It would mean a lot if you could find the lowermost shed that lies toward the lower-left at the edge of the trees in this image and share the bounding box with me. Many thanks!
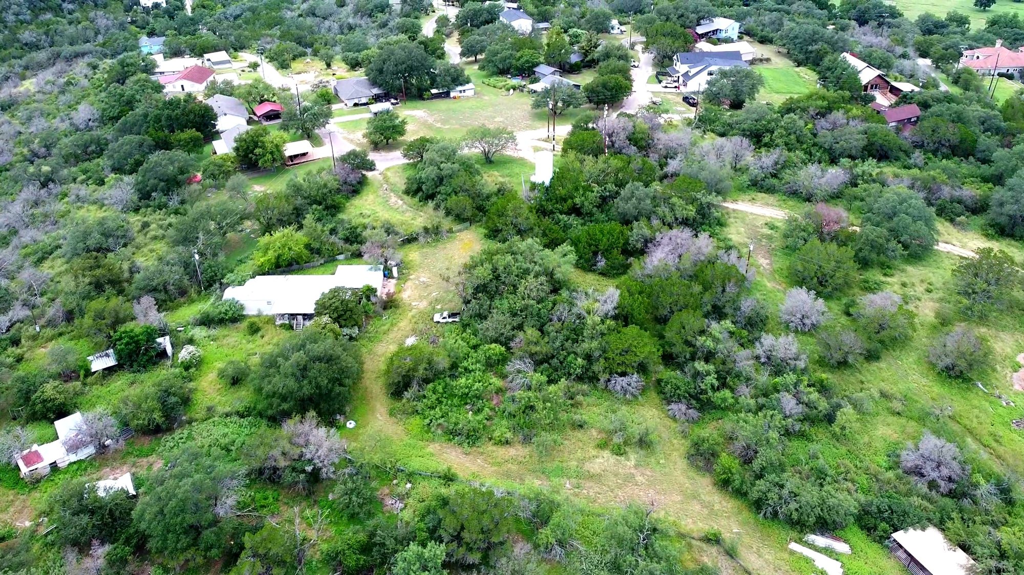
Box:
[90,470,137,507]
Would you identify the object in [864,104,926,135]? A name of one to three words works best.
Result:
house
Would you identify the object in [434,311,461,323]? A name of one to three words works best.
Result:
vehicle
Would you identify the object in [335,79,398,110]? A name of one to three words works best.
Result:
house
